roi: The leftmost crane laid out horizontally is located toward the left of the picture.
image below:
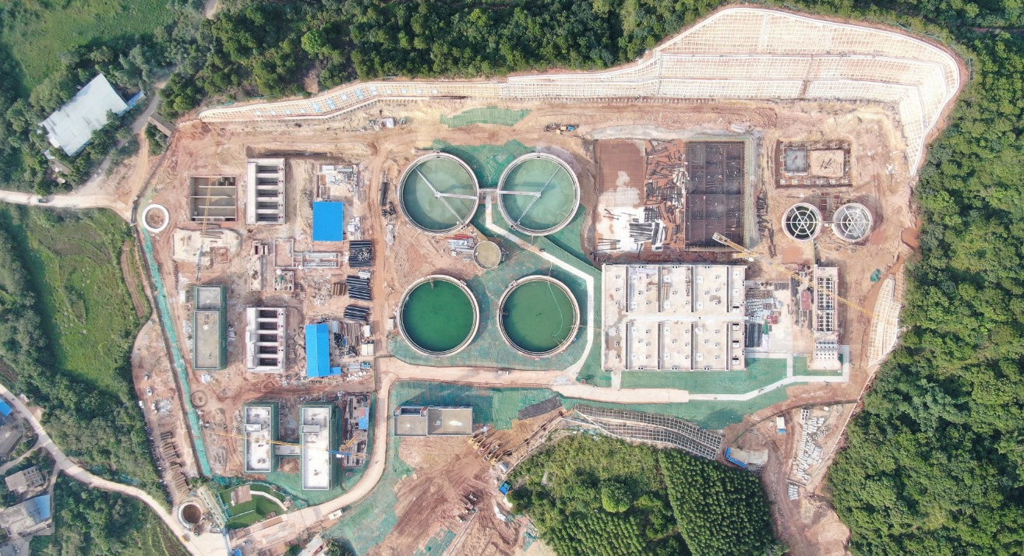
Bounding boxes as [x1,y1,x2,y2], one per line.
[208,430,370,458]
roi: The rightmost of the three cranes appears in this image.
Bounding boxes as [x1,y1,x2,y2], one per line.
[711,234,874,317]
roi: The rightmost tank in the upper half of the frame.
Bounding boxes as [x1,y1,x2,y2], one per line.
[828,202,872,242]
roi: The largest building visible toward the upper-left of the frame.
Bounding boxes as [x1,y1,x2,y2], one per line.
[41,73,134,156]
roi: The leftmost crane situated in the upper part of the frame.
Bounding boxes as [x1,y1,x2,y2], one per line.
[193,116,233,279]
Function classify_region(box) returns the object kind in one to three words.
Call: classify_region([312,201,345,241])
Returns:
shed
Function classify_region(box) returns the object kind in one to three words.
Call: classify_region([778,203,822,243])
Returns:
storage tank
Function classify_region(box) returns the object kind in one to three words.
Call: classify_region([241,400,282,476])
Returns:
building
